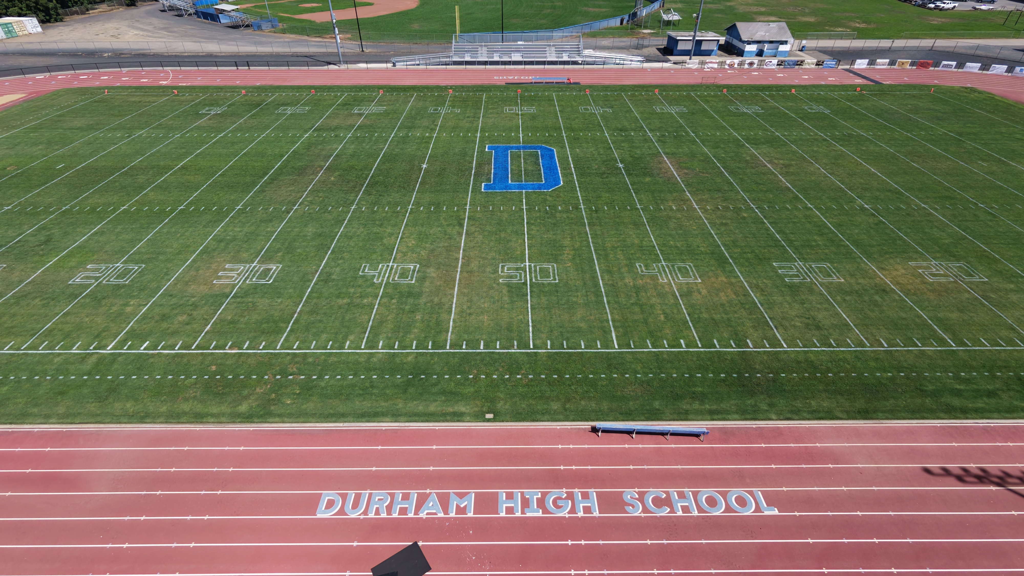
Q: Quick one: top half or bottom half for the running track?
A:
bottom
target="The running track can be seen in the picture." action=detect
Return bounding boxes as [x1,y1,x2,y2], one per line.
[0,424,1024,576]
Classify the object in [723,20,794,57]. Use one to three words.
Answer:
building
